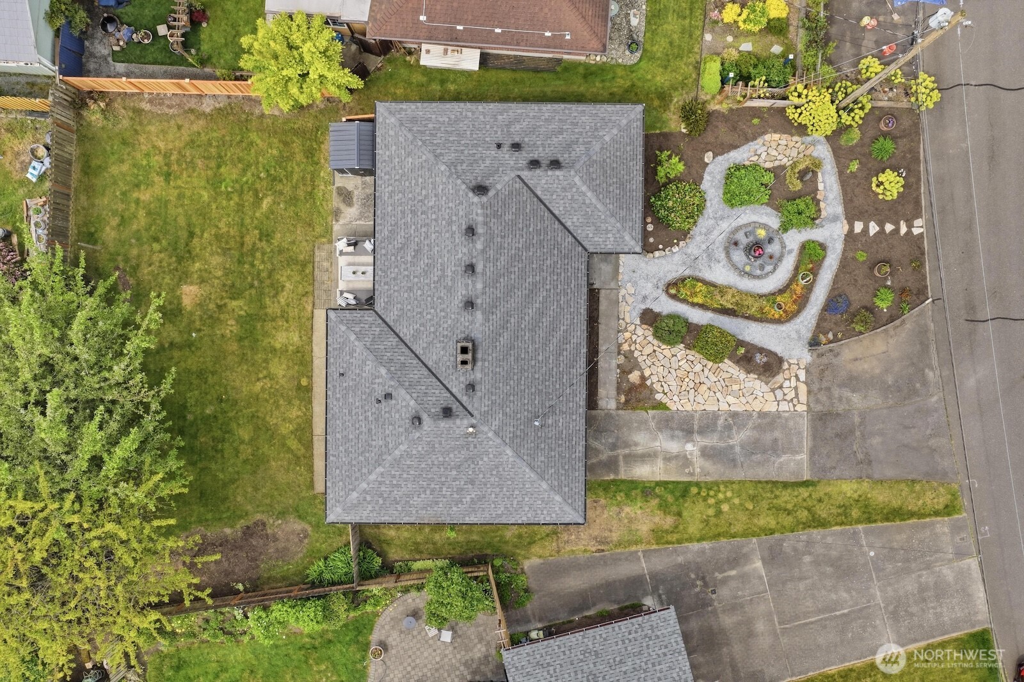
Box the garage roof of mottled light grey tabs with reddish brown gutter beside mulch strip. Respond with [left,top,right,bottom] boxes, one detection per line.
[501,602,697,682]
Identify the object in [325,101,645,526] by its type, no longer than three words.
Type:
house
